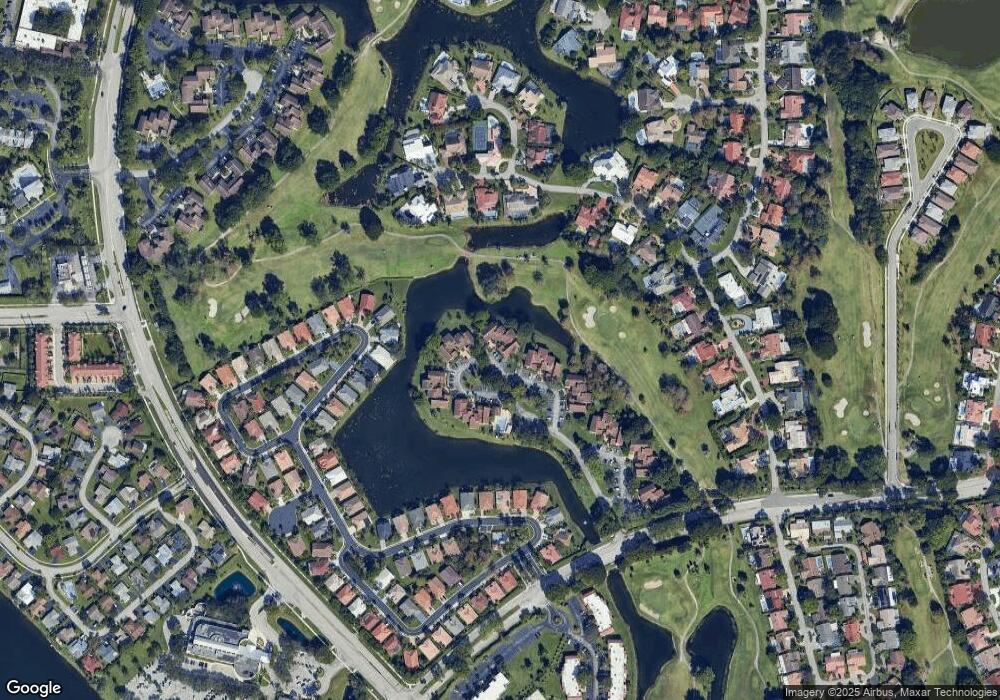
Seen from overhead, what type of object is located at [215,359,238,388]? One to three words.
house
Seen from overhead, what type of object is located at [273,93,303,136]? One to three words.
building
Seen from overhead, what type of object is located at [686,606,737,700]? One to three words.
pond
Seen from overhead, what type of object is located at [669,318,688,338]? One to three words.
swimming pool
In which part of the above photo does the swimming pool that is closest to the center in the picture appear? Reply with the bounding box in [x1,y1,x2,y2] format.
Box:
[495,409,510,433]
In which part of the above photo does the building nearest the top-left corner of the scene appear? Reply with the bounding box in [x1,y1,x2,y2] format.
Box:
[15,0,89,57]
